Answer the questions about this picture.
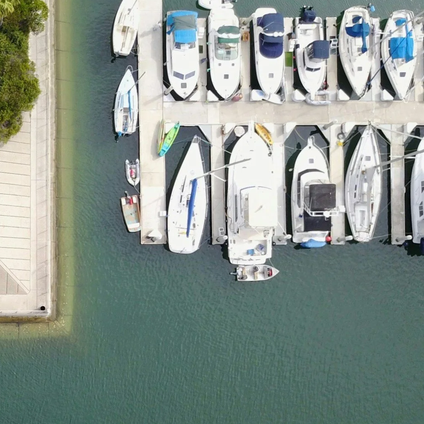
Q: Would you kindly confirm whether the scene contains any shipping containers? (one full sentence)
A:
No, the picture doesn't show any shipping container.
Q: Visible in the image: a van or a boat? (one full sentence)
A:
Looking from above, you can make out a boat.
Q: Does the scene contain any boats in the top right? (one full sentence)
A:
Yes, there is a boat in the top right.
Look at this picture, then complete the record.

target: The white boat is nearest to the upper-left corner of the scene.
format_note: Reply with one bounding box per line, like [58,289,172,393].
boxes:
[111,0,145,57]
